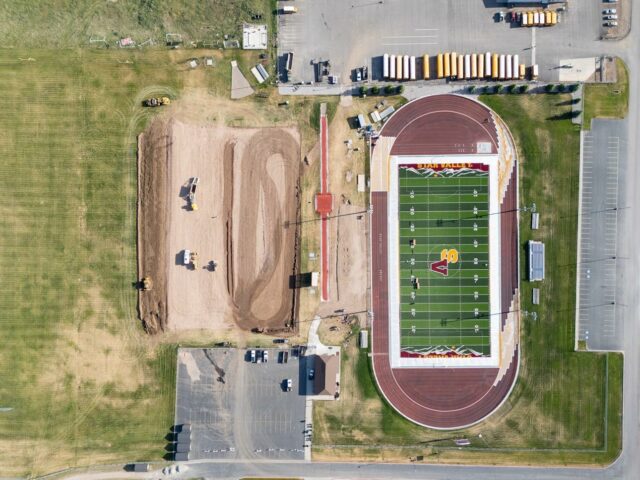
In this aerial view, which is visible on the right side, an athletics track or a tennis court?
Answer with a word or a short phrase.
athletics track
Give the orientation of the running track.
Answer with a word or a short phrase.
up and down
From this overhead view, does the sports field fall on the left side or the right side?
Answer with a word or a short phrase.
right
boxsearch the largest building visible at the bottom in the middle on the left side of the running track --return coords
[310,356,338,397]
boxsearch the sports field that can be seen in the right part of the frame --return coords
[388,155,501,368]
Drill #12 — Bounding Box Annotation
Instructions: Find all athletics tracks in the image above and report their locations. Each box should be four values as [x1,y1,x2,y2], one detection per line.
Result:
[369,94,519,431]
